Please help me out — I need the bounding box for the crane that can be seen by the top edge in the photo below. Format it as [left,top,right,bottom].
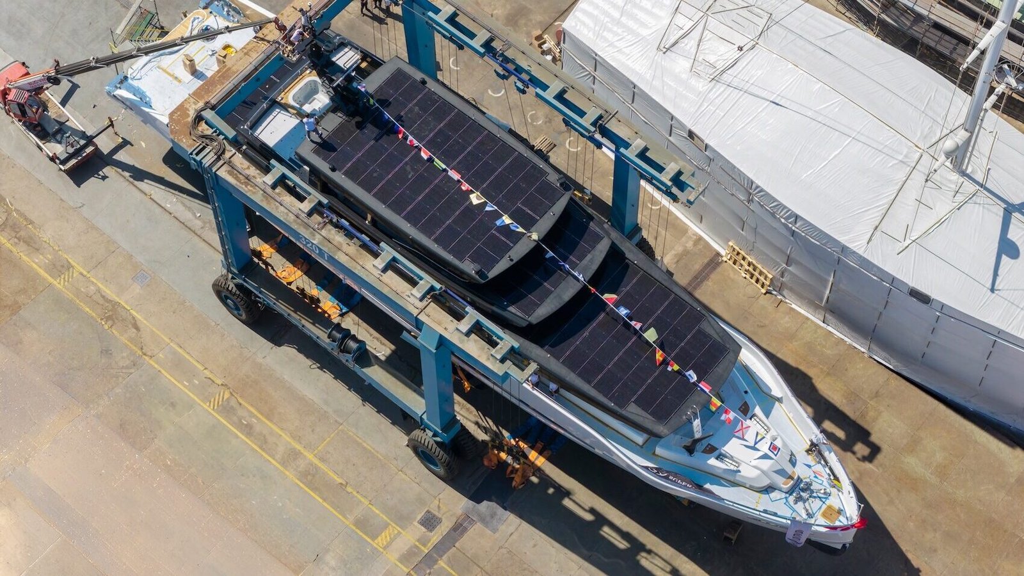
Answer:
[0,12,298,182]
